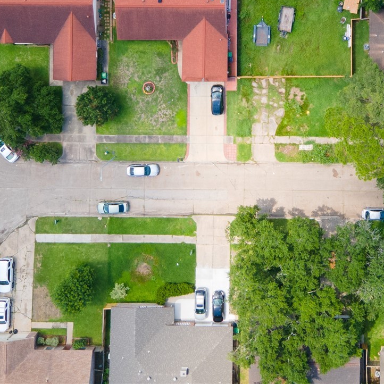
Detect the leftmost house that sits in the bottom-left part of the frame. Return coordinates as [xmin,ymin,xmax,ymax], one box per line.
[0,332,91,384]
